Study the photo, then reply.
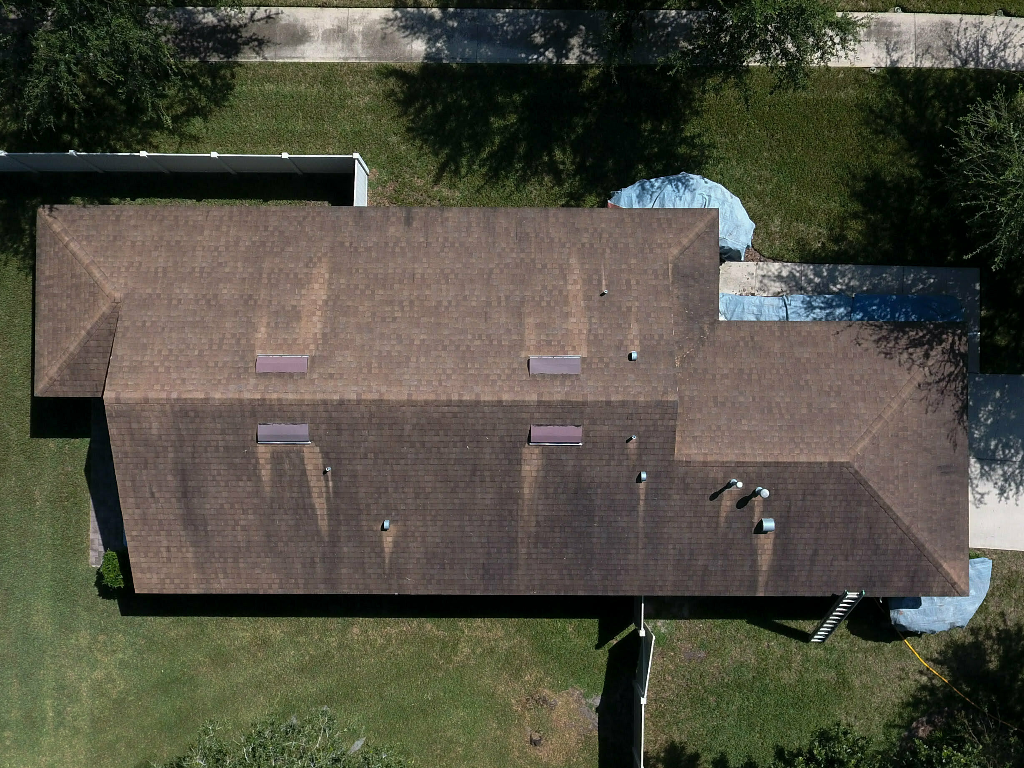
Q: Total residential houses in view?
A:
1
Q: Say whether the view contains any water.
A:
No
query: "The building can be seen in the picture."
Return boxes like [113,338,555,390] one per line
[34,205,970,597]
